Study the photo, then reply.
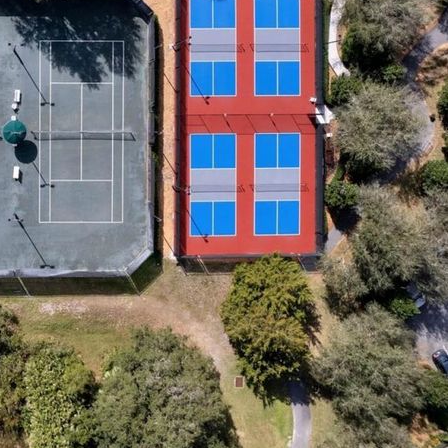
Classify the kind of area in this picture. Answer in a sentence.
What you see here is a sports ground.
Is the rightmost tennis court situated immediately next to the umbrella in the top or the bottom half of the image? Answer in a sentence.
The rightmost tennis court situated immediately next to the umbrella sits in the top half of the picture.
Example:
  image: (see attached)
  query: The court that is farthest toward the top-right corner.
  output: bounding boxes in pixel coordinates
[245,0,315,114]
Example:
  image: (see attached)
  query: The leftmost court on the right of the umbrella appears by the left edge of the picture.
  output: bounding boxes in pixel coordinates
[15,0,149,271]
